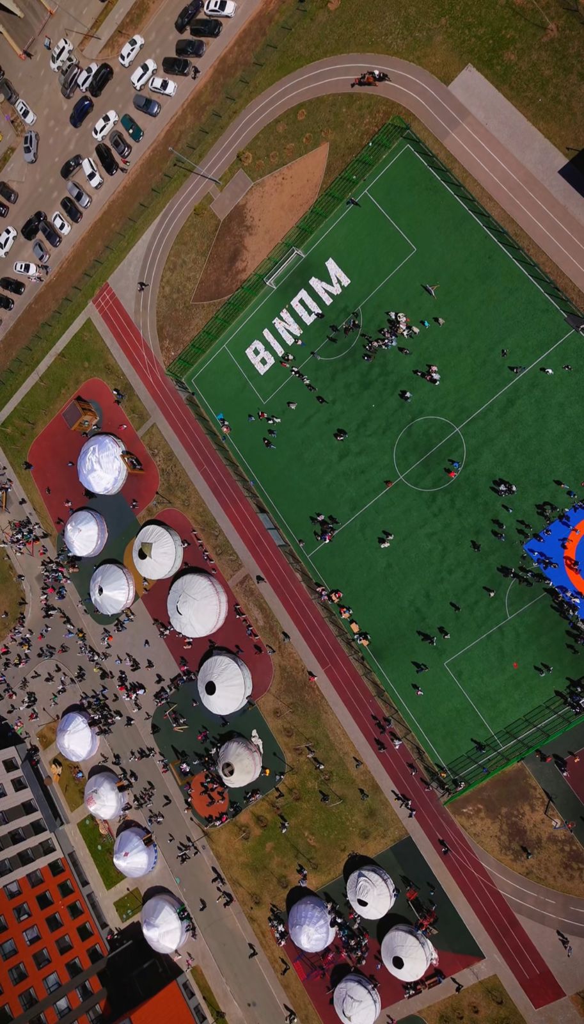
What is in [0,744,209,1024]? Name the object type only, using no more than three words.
building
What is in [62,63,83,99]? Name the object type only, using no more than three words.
car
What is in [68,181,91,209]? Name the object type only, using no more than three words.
car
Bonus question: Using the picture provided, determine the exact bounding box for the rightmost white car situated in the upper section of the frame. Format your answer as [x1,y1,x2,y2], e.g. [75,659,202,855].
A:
[204,0,236,20]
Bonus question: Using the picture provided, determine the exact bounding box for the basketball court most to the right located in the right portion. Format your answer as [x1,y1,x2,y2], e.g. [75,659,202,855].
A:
[523,724,584,848]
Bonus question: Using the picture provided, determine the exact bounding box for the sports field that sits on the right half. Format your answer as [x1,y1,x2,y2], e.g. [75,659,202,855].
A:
[182,131,584,795]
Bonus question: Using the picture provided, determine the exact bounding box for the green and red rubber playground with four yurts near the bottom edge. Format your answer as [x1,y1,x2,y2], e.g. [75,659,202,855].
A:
[269,836,486,1024]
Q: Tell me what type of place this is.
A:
sports ground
